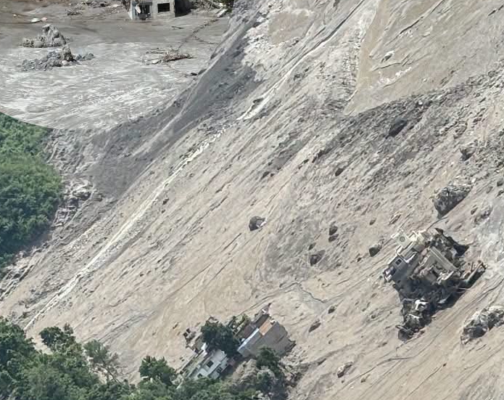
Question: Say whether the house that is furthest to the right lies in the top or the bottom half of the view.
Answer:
bottom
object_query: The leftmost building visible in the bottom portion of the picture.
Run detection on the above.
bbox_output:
[168,334,223,386]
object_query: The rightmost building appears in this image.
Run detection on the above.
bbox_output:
[354,222,485,341]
